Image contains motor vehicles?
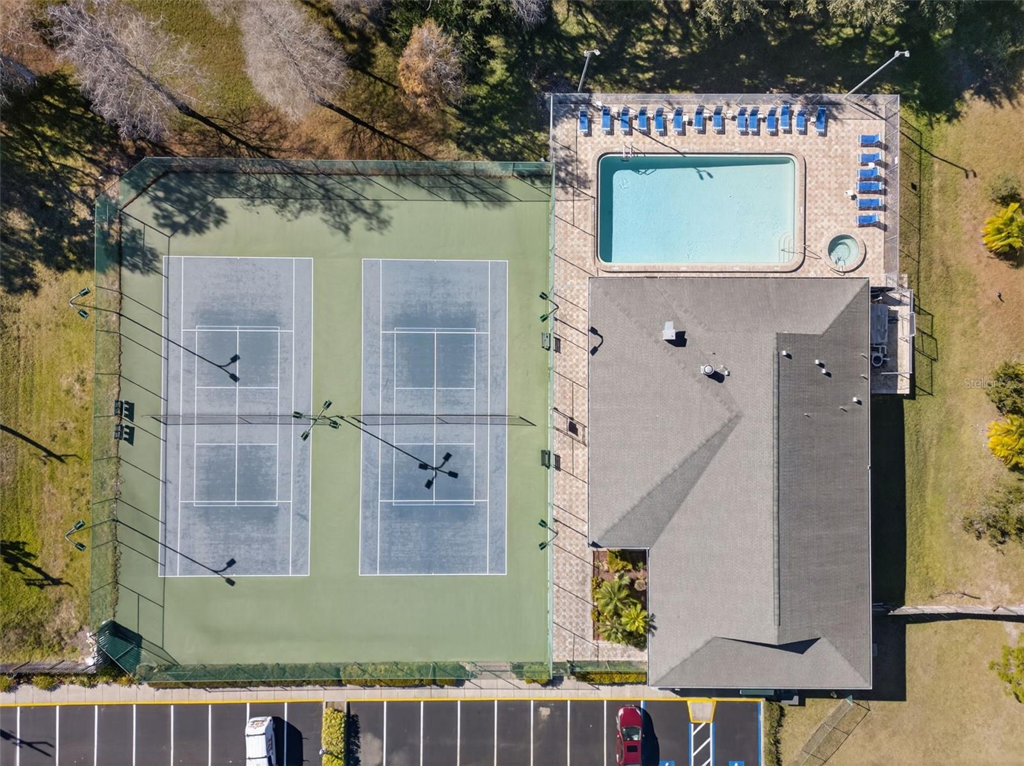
Yes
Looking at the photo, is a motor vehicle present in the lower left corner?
Yes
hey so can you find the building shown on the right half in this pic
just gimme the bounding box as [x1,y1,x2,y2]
[587,276,873,696]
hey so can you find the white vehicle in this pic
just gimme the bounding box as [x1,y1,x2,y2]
[243,716,279,766]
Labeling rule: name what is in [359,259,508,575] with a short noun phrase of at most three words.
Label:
tennis court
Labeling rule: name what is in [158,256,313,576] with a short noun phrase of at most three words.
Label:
tennis court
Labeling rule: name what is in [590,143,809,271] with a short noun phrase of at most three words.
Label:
swimming pool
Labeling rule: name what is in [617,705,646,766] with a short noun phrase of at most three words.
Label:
car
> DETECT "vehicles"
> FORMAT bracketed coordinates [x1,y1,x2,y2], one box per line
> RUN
[617,705,646,766]
[243,716,279,766]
